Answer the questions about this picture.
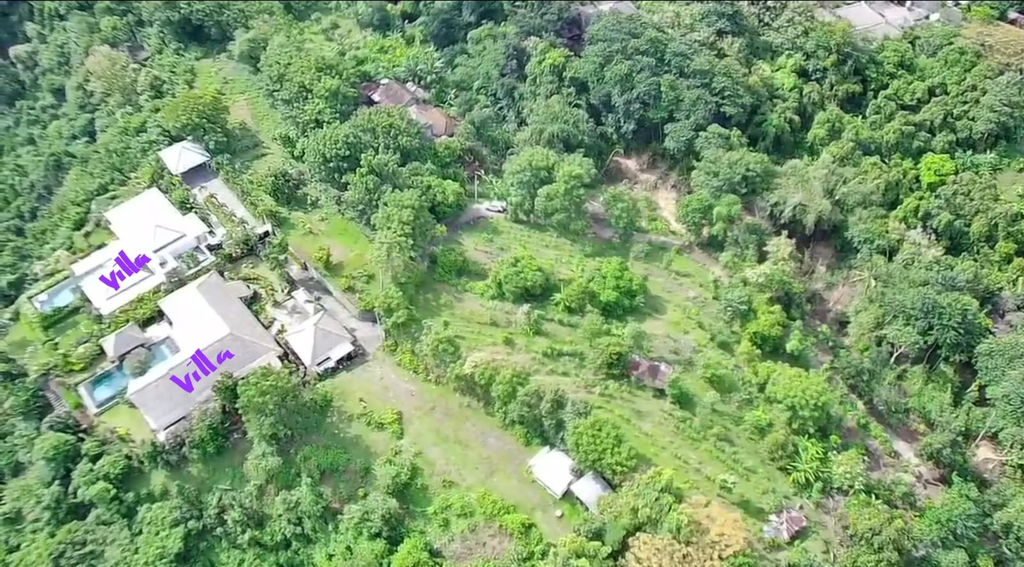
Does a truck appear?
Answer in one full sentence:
No, I can see no truck in this picture.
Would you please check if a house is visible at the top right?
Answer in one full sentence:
Yes, at the top right there is a house.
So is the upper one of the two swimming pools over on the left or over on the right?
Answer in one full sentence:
The upper one of the two swimming pools appears in the left half of the scene.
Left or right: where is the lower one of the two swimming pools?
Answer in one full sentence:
The lower one of the two swimming pools appears in the left half of the scene.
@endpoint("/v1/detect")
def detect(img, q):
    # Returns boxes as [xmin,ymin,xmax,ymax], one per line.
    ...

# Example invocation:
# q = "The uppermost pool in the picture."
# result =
[31,273,88,320]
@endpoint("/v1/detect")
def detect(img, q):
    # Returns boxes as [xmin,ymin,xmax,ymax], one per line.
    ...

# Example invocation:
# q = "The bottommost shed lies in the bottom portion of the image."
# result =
[771,505,808,541]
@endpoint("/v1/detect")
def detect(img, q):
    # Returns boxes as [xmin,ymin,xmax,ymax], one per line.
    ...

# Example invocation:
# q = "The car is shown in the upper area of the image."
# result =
[483,199,505,211]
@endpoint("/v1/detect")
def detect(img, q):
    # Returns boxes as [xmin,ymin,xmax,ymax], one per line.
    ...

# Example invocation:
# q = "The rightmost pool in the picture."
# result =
[78,333,181,417]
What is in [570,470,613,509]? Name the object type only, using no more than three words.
shed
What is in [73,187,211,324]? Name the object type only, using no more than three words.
house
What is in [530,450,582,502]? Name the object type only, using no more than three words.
shed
